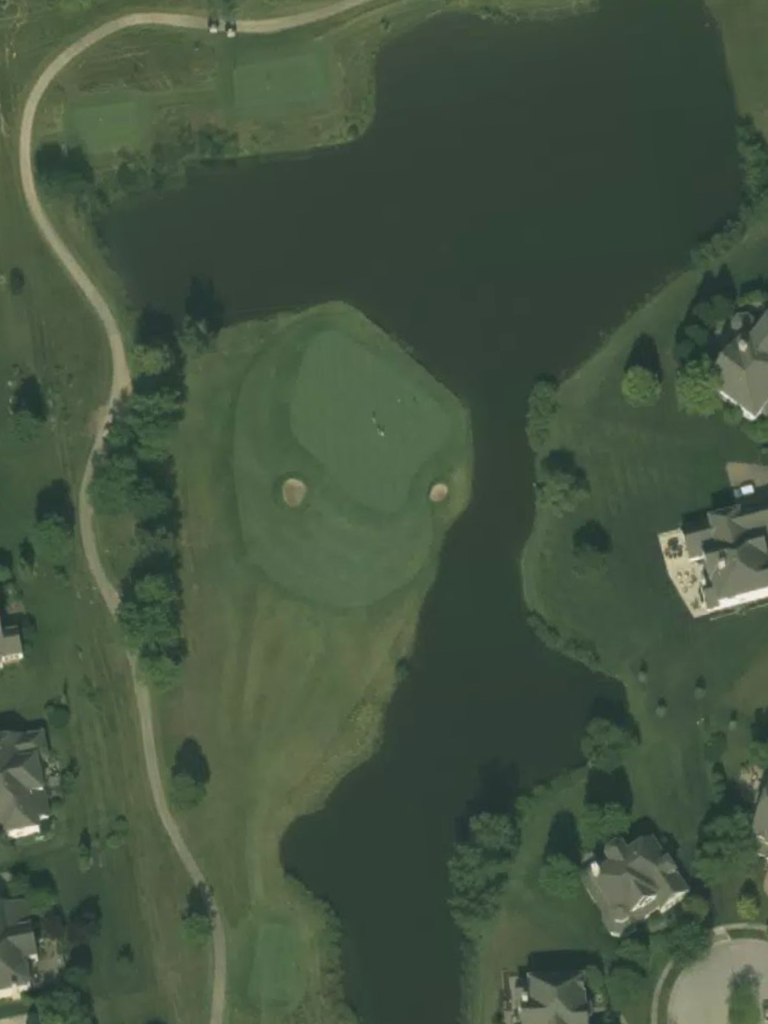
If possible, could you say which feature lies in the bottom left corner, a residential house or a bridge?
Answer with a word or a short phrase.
residential house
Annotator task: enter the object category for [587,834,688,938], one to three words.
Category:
house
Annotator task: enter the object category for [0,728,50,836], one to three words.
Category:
house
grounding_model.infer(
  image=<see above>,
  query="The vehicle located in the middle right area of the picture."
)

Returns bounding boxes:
[734,484,757,497]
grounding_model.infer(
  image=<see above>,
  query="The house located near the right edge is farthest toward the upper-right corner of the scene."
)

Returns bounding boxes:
[717,309,768,417]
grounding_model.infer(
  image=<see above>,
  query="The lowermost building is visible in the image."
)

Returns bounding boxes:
[521,971,589,1024]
